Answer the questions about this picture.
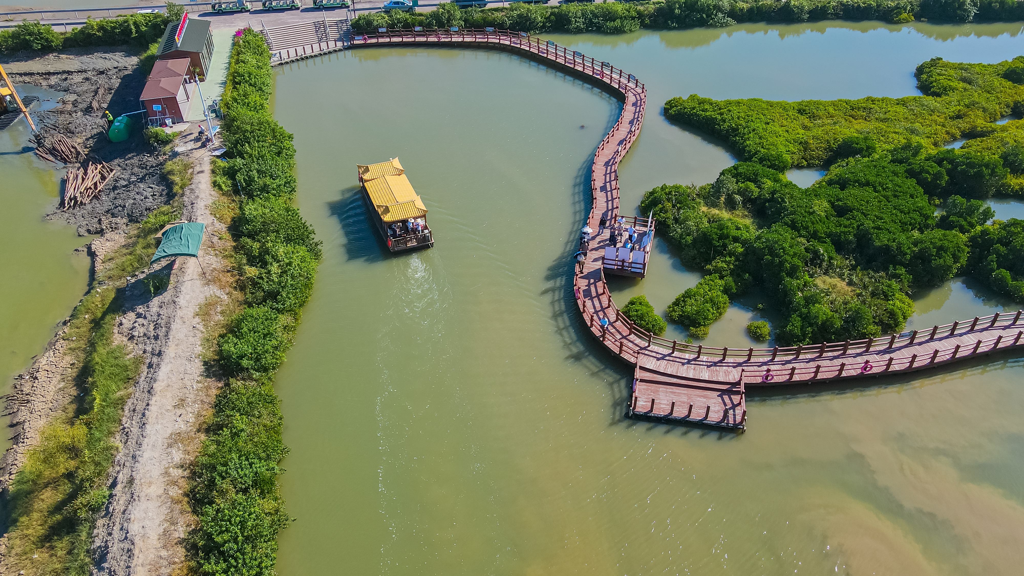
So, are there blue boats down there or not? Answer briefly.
No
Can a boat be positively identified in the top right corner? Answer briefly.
No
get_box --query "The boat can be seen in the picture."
[355,155,434,253]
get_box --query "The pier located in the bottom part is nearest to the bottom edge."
[627,354,748,437]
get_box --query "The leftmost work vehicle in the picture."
[0,59,49,147]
